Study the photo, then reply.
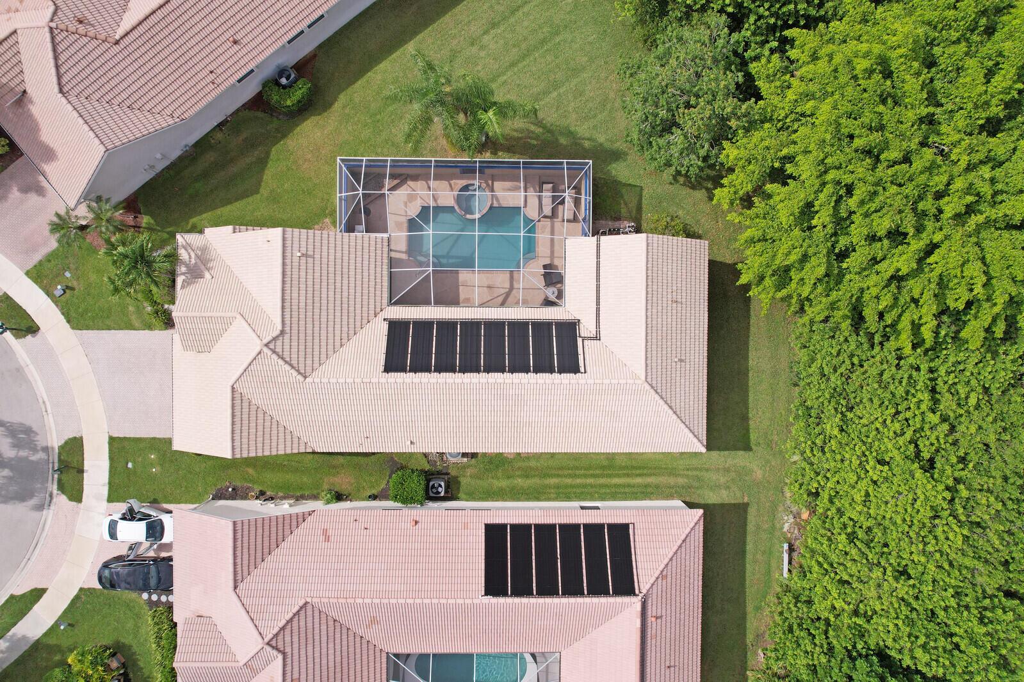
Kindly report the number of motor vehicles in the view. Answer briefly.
two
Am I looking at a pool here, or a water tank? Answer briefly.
pool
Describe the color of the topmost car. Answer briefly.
white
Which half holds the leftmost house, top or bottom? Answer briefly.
top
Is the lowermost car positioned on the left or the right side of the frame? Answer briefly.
left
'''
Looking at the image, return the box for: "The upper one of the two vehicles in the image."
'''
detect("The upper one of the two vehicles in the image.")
[102,497,173,554]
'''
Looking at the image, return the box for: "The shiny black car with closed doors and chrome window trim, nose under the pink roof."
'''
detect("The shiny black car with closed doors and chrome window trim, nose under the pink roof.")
[96,550,171,590]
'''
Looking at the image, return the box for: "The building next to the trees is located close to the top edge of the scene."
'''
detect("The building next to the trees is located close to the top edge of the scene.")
[0,0,366,209]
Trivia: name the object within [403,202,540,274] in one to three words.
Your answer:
swimming pool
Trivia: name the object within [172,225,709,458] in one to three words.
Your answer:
house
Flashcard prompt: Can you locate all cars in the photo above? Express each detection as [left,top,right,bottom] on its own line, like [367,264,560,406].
[102,497,173,554]
[96,550,171,590]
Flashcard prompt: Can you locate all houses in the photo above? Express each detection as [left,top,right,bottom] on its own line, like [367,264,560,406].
[172,225,709,458]
[170,502,706,682]
[0,0,366,209]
